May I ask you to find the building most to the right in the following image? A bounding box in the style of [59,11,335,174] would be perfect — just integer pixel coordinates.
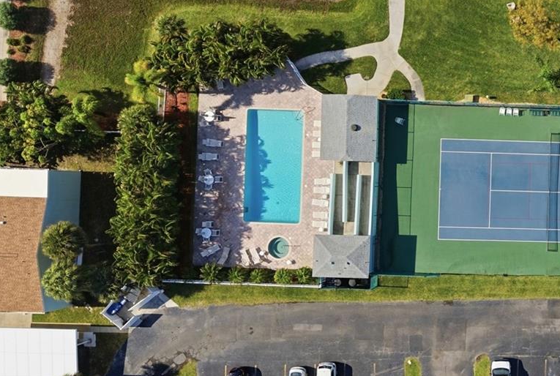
[313,93,379,278]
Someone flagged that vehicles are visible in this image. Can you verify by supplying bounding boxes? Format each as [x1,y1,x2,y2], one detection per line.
[227,367,248,376]
[489,360,511,376]
[289,366,309,376]
[315,362,337,376]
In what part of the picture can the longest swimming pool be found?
center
